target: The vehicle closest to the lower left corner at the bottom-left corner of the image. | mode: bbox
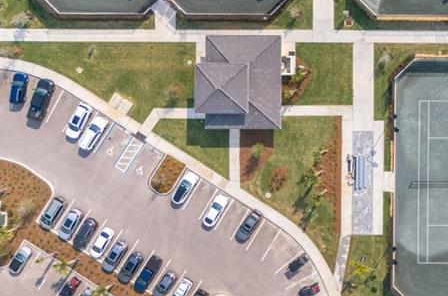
[7,243,34,277]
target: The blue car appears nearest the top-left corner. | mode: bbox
[10,72,29,105]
